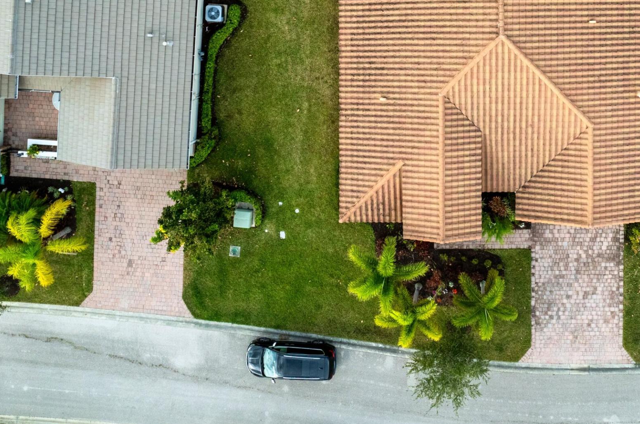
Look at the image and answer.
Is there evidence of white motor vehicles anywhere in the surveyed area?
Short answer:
No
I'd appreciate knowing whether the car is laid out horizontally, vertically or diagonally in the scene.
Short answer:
horizontally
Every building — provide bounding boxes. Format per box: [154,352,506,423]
[0,0,206,185]
[336,0,640,245]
